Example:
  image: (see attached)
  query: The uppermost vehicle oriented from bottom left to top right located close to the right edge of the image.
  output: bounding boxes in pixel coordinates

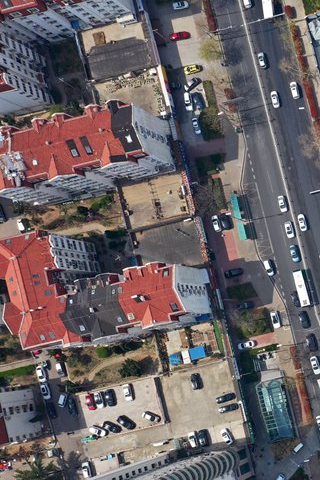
[289,440,306,456]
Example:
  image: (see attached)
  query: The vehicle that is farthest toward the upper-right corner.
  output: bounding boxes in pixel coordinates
[261,0,277,21]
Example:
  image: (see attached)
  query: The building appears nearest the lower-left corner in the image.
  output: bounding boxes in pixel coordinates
[0,387,55,445]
